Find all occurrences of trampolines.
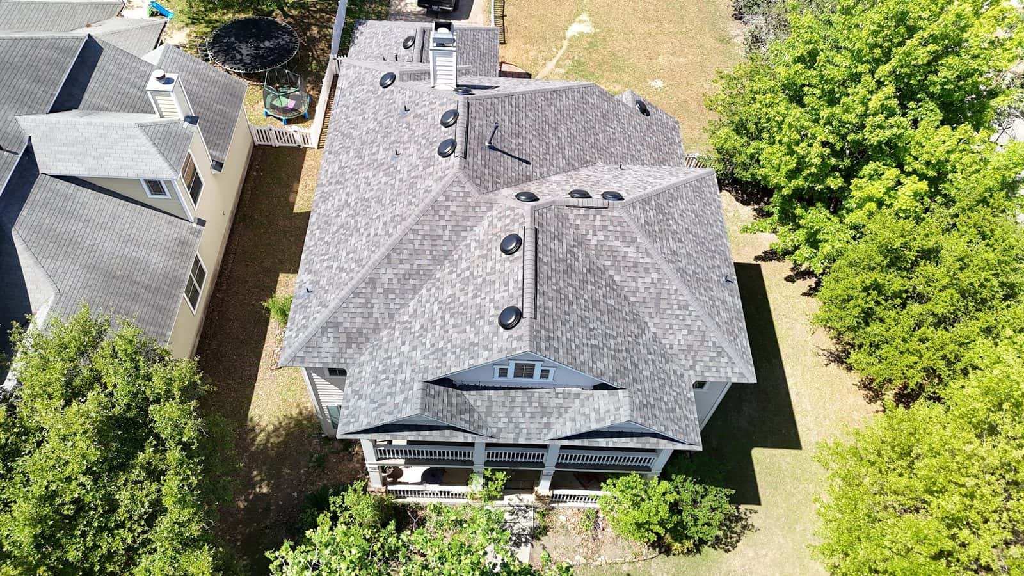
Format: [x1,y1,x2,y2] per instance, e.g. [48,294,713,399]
[203,15,301,87]
[264,68,310,123]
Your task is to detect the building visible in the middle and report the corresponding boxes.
[278,21,757,514]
